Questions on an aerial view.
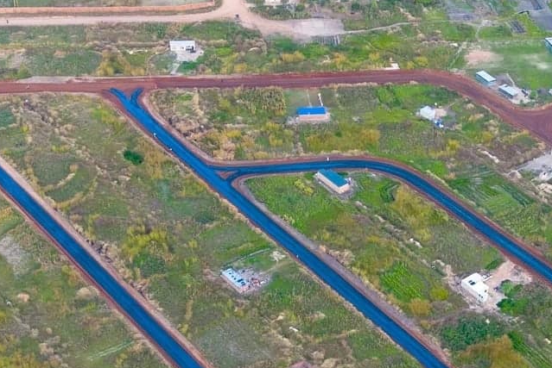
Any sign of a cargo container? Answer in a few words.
No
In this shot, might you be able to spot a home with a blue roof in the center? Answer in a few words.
Yes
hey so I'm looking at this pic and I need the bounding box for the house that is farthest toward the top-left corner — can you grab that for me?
[171,40,195,56]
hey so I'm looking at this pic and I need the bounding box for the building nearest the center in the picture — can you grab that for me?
[319,164,349,192]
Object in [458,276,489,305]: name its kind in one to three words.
house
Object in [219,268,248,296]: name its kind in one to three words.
house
